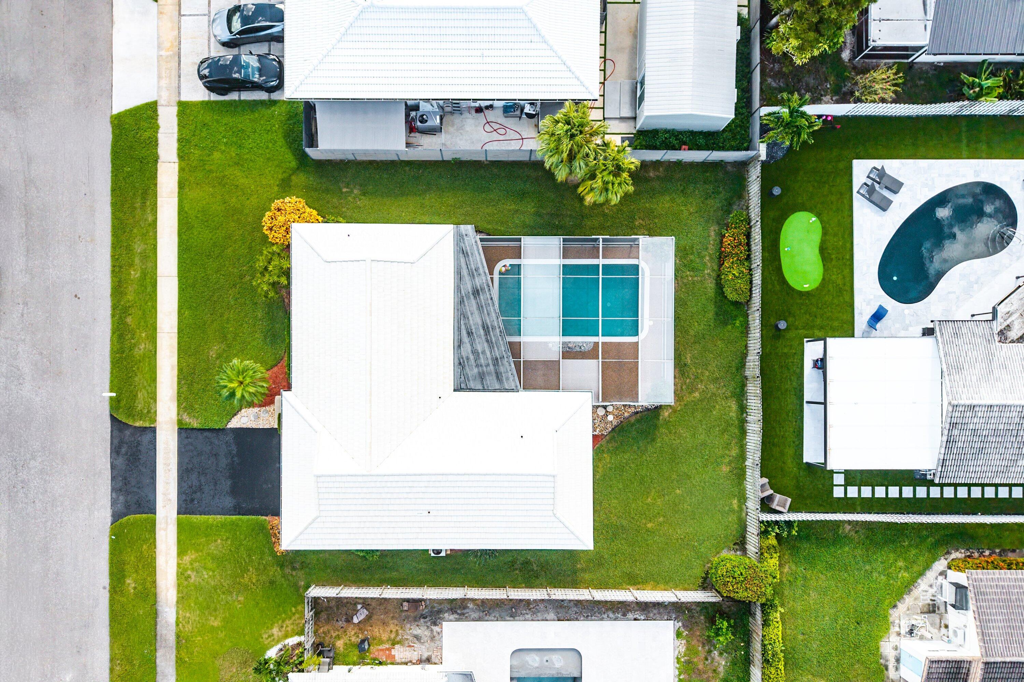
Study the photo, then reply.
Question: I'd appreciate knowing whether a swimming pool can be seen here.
Yes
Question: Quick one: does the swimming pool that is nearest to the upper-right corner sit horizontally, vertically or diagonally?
diagonally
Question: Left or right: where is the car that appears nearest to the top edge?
left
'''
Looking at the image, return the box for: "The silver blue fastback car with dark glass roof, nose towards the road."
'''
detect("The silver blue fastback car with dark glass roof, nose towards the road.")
[210,3,284,48]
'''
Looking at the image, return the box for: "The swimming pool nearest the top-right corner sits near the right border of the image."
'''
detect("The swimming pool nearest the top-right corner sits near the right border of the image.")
[879,181,1018,304]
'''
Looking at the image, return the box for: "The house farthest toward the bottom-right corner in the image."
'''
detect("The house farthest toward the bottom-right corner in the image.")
[900,569,1024,682]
